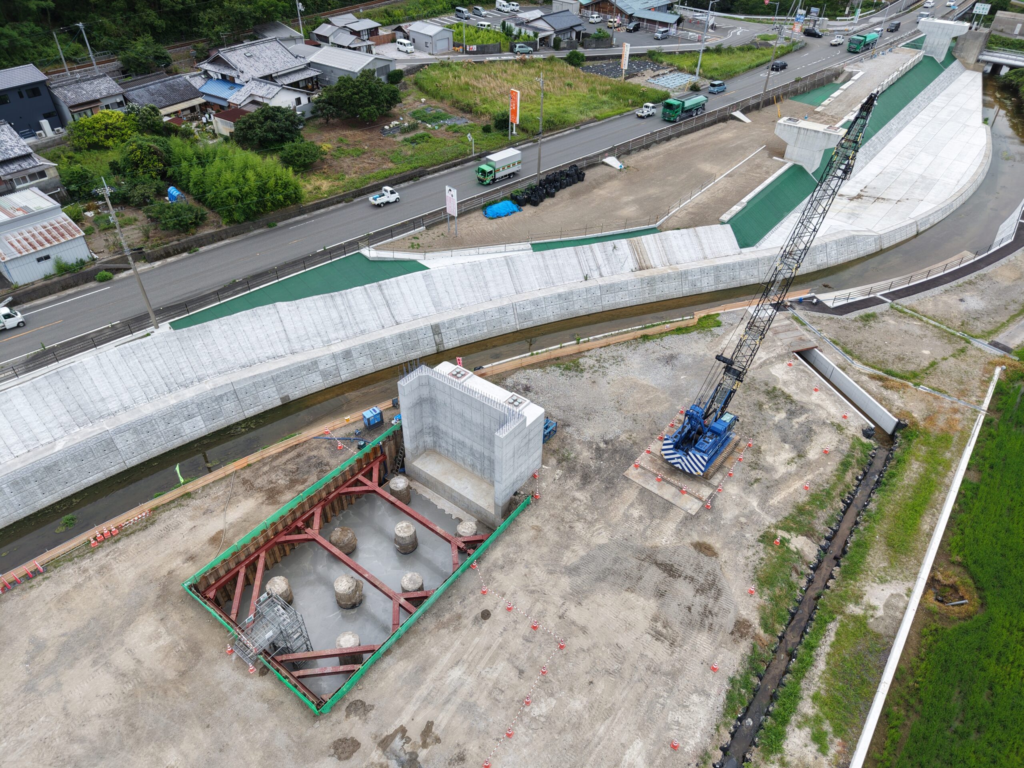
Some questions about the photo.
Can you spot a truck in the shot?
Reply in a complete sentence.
Yes, there's a truck here.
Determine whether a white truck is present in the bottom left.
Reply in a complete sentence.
No, I can find no white truck in the bottom left.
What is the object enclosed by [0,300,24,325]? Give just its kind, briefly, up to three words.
truck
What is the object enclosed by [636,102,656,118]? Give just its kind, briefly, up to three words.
vehicle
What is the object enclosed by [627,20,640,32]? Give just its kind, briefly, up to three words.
vehicle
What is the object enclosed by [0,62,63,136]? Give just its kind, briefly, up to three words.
house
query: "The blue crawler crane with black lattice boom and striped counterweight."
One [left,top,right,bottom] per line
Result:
[660,76,890,480]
